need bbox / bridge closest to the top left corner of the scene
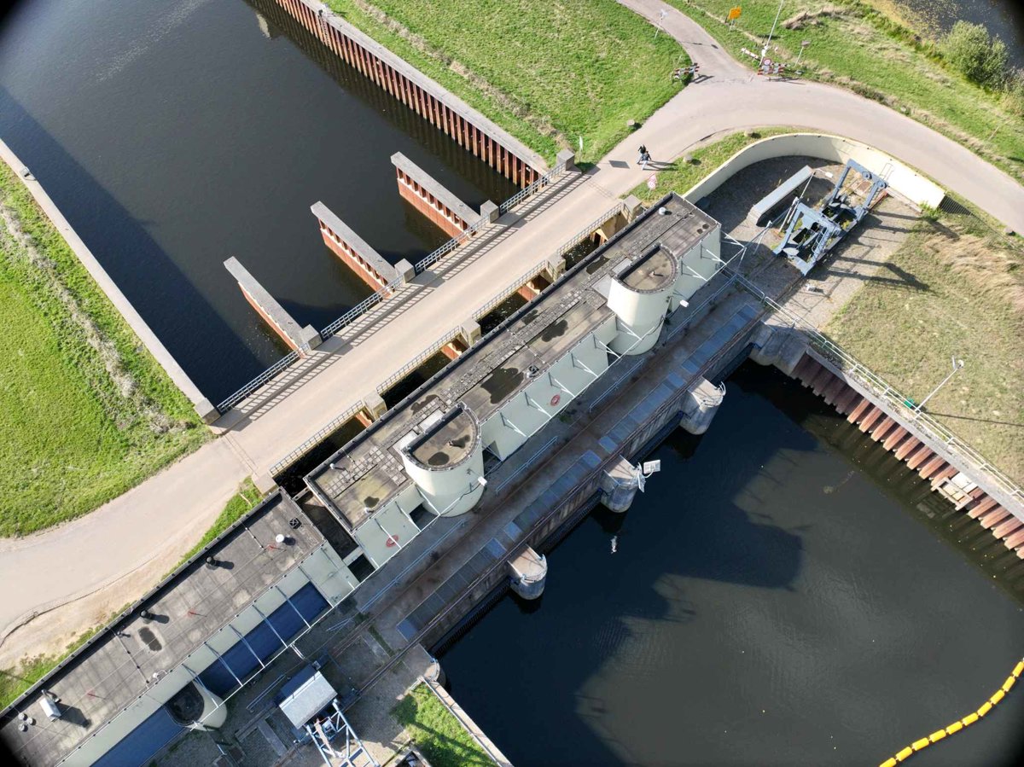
[193,151,648,496]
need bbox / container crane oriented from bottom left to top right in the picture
[769,157,891,276]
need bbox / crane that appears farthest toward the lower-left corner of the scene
[270,649,383,767]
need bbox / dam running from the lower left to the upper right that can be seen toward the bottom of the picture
[205,194,883,767]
